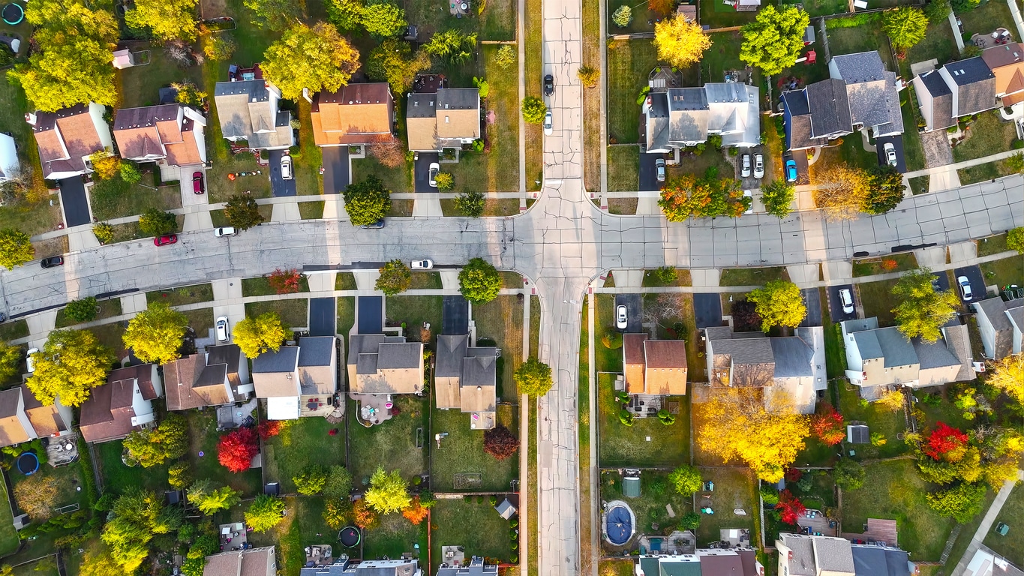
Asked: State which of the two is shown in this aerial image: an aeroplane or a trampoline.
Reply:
trampoline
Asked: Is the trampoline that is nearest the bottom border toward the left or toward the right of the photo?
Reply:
left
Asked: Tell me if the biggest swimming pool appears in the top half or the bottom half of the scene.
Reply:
bottom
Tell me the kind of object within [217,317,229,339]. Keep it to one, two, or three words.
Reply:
vehicle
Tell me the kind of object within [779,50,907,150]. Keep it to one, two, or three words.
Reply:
house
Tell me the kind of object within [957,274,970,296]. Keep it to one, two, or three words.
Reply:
vehicle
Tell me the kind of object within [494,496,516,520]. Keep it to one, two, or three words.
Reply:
shed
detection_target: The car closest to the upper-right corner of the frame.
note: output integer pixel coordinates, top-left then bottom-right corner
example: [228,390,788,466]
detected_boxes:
[883,143,897,166]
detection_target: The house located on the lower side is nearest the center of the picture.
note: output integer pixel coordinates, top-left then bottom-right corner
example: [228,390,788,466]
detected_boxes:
[434,334,496,412]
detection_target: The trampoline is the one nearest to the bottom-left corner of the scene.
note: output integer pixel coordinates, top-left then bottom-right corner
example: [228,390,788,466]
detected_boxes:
[14,453,40,476]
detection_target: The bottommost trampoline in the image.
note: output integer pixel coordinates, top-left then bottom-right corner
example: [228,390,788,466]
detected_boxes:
[336,526,361,550]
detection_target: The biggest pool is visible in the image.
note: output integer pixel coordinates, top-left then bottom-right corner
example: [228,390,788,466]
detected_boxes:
[602,501,635,547]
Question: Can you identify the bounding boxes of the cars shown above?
[655,159,666,181]
[25,349,40,371]
[0,311,14,322]
[957,274,970,296]
[883,143,897,166]
[753,155,763,177]
[544,75,554,97]
[217,317,229,339]
[543,112,553,135]
[839,290,853,312]
[740,155,751,177]
[155,235,177,246]
[411,260,433,268]
[429,164,439,186]
[216,228,237,237]
[192,172,205,194]
[282,157,292,178]
[617,306,626,327]
[785,161,797,181]
[42,257,64,267]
